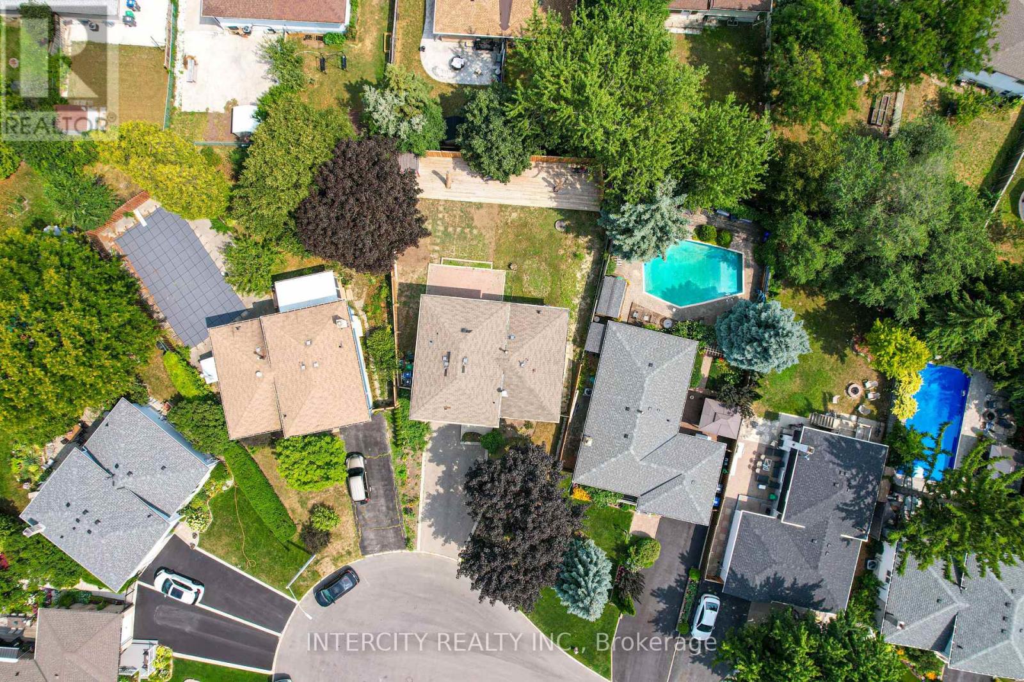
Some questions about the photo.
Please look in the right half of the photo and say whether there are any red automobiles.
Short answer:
No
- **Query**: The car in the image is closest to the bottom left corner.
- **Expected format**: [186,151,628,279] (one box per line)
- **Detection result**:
[155,568,207,605]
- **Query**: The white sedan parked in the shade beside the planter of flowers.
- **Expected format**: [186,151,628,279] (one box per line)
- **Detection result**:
[690,594,718,640]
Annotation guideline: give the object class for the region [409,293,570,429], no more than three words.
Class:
house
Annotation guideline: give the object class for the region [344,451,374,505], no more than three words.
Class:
car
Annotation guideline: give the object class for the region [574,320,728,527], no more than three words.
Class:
house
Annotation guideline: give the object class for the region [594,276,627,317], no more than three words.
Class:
shed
